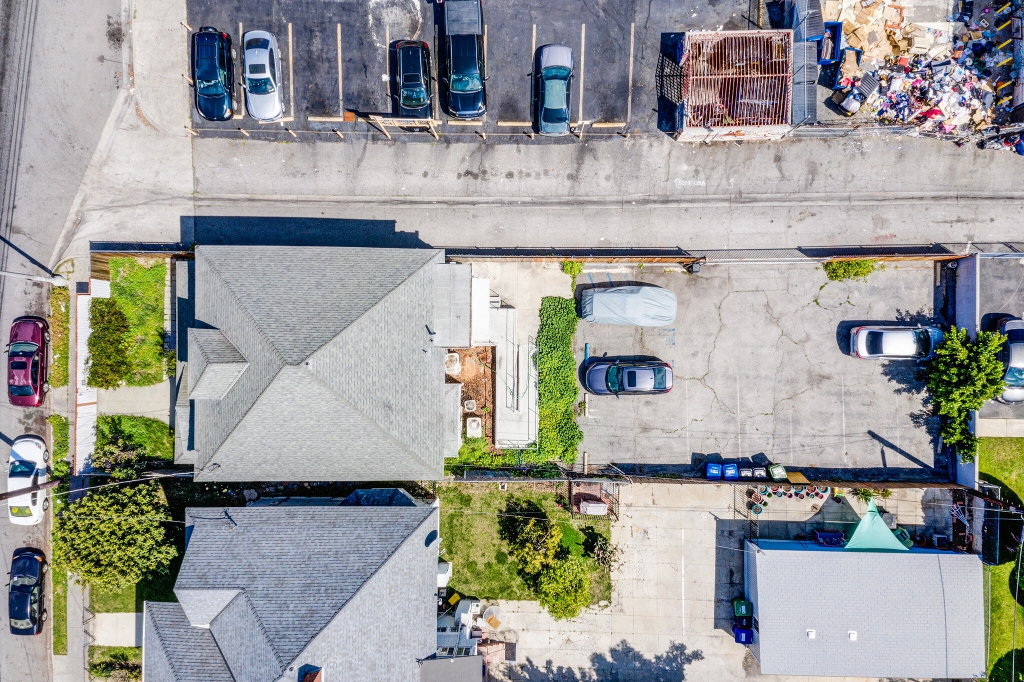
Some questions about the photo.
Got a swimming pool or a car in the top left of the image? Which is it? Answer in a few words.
car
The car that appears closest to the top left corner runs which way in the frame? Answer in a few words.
vertically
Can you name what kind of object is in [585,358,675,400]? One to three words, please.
car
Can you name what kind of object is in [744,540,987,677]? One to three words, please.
building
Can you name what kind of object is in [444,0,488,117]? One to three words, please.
truck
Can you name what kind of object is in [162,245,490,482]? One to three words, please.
house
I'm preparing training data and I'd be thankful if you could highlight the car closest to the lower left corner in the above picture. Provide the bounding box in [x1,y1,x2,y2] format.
[0,550,48,637]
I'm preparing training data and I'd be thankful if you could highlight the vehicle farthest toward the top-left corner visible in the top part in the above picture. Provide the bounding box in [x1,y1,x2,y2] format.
[188,23,235,120]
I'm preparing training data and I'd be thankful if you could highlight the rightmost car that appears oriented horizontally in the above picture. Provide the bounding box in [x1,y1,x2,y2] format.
[844,323,938,364]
